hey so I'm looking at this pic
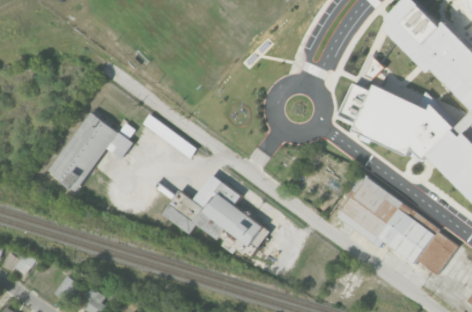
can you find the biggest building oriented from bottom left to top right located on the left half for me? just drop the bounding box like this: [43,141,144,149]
[50,114,119,190]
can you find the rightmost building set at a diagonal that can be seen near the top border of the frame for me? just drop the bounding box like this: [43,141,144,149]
[384,0,472,113]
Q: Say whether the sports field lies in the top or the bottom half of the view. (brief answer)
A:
top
